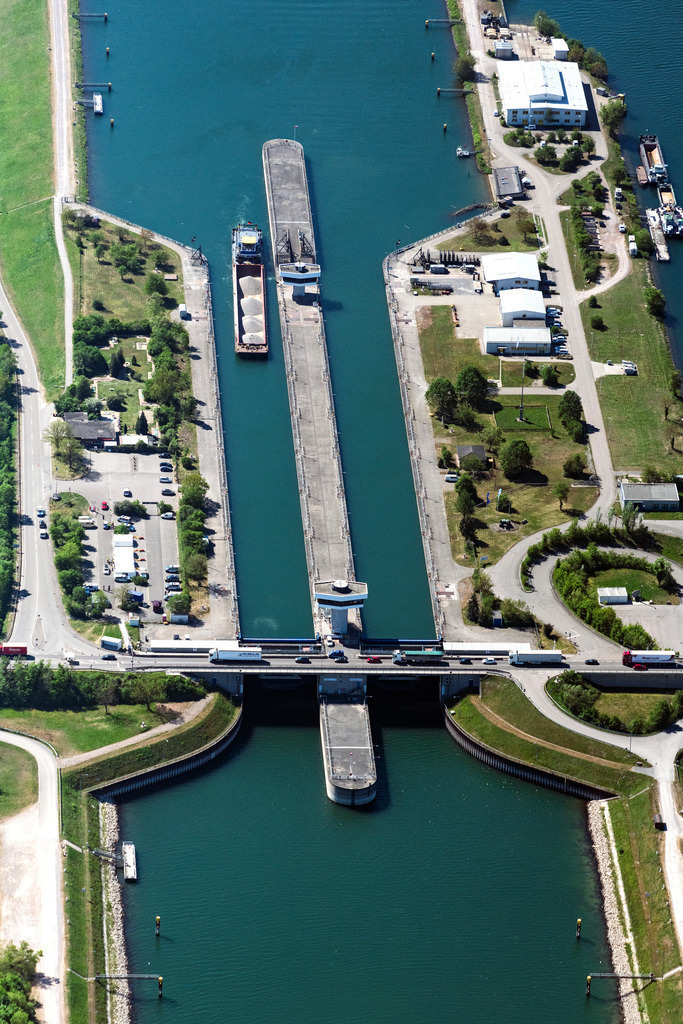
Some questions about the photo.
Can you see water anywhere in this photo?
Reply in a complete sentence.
Yes, some water is visible.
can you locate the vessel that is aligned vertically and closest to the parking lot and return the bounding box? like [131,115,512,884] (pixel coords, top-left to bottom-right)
[233,216,270,357]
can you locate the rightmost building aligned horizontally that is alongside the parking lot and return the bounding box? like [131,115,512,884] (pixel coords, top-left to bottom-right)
[149,638,242,653]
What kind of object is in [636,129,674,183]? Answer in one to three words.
ship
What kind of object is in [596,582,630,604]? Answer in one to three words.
shed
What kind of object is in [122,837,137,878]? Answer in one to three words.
pier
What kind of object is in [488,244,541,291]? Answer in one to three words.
building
